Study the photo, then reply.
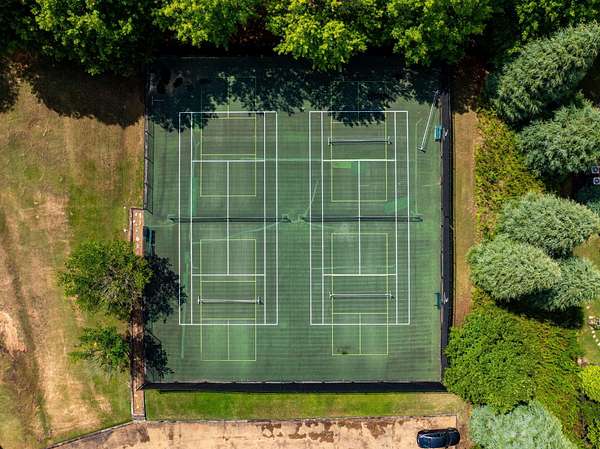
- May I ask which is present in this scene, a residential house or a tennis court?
tennis court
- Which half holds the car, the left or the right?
right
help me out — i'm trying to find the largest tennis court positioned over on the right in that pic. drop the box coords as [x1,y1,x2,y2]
[309,111,412,325]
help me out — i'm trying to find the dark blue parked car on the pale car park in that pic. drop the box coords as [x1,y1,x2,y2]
[417,427,459,449]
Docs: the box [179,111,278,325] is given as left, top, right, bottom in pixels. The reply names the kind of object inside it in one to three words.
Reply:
tennis court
